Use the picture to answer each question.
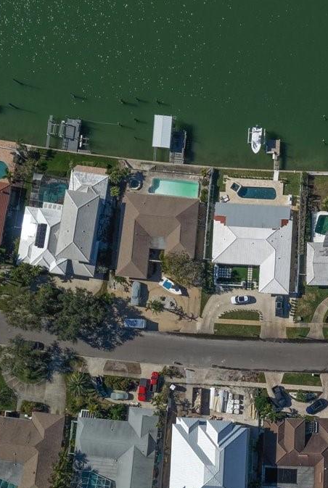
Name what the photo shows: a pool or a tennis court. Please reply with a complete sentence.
There is a pool in the scene.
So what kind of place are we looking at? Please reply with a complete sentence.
The area seen from above is a residential area.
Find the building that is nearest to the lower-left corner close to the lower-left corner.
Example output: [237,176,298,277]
[0,411,67,488]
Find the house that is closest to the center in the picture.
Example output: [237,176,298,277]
[116,193,200,278]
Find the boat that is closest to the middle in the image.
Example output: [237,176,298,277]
[158,277,182,292]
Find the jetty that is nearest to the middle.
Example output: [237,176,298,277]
[167,132,185,163]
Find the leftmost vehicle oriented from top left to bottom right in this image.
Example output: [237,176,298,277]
[91,376,109,397]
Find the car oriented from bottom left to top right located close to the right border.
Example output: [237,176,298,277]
[309,398,327,413]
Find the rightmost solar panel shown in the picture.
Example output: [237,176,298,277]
[278,469,296,485]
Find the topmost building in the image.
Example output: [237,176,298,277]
[152,113,176,150]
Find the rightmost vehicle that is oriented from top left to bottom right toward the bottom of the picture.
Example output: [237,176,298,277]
[271,385,288,405]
